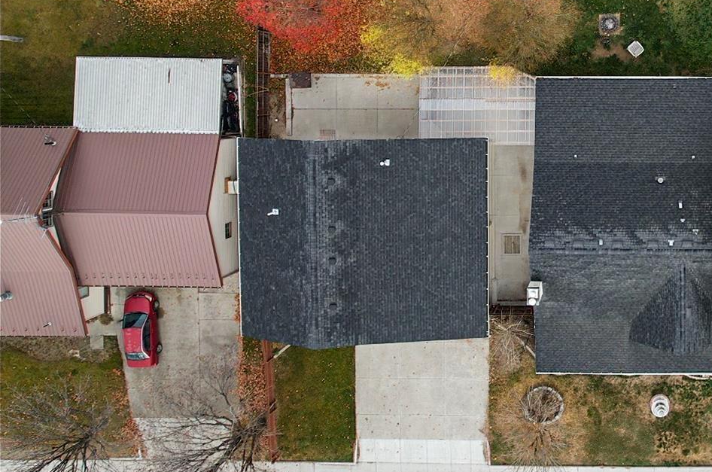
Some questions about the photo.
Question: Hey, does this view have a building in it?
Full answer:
Yes, this view includes a building.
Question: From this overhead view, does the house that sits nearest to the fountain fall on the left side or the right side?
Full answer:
The house that sits nearest to the fountain appears in the right half of the scene.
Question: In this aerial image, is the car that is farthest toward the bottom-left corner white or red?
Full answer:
The color of the car that is farthest toward the bottom-left corner is red.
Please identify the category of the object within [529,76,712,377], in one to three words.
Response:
house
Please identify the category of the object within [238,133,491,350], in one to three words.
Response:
house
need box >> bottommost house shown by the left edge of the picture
[0,126,238,339]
